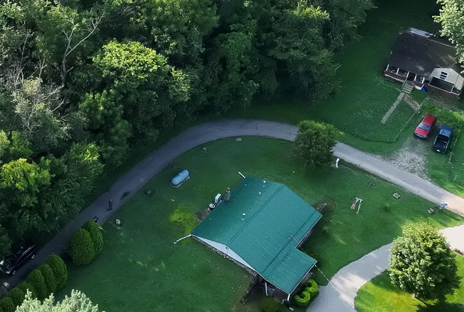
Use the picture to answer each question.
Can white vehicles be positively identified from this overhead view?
No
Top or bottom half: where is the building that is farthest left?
bottom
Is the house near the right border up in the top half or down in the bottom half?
top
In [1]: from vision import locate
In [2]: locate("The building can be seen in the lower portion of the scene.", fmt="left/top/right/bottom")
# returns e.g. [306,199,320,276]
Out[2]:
[178,177,325,302]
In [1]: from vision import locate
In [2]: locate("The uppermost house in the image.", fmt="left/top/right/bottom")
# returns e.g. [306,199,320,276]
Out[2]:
[386,28,464,100]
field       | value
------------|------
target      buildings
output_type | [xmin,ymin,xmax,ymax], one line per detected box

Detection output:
[386,28,464,100]
[178,177,325,302]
